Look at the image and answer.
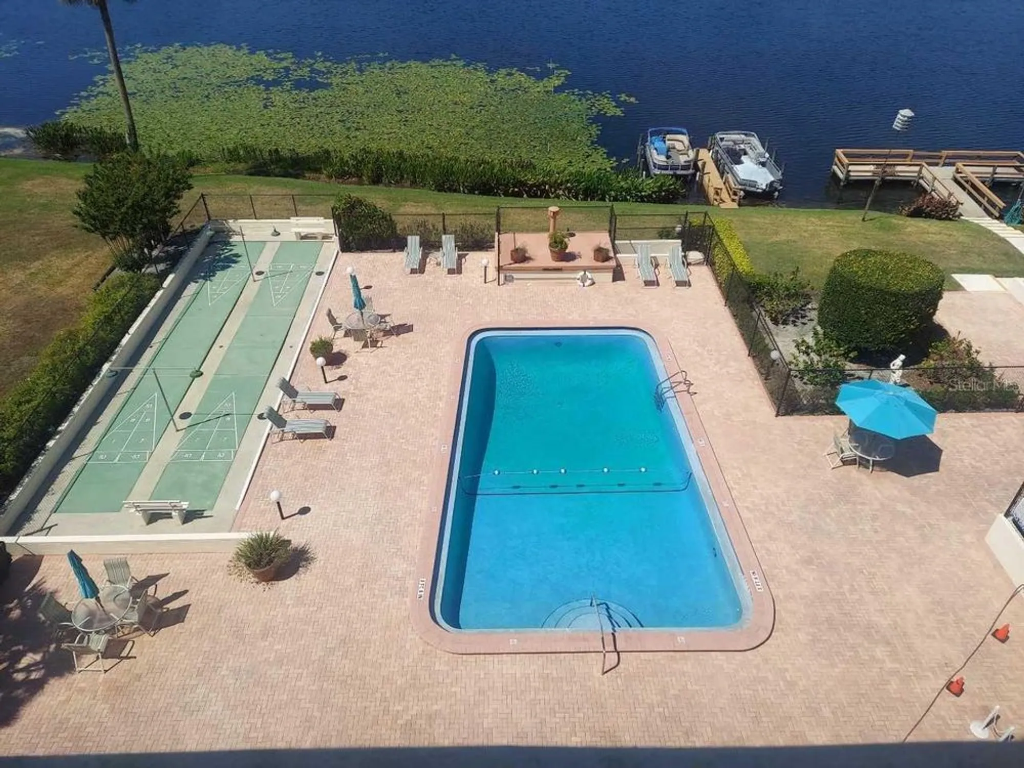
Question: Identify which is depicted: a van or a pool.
pool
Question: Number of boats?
two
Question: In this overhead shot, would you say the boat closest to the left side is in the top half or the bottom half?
top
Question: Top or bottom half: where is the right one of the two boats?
top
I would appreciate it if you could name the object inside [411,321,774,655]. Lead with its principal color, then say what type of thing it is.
blue swimming pool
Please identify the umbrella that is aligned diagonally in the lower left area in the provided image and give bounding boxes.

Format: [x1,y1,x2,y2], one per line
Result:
[62,549,124,637]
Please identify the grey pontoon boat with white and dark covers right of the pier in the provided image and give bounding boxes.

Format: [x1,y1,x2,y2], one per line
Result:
[700,130,788,196]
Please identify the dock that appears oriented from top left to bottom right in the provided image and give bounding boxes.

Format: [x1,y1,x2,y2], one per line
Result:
[691,145,739,205]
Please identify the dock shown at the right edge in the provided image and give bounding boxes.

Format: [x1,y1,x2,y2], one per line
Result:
[826,147,1024,227]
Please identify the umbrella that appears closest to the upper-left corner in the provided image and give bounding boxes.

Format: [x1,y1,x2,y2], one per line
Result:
[350,272,369,330]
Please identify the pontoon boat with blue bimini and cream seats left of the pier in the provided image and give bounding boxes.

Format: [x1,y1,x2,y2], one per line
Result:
[643,120,697,180]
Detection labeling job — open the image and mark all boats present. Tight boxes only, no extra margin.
[700,130,788,196]
[643,120,697,180]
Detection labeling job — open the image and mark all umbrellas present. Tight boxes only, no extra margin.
[350,272,369,330]
[833,378,939,468]
[62,549,124,637]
